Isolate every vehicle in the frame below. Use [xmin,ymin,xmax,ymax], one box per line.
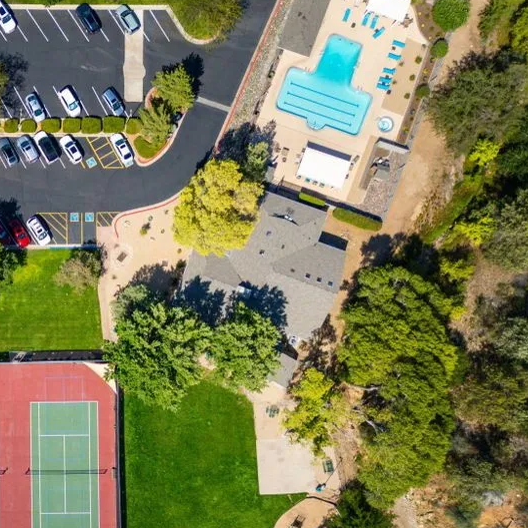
[111,135,133,165]
[28,214,49,244]
[77,2,99,34]
[102,86,123,115]
[36,131,59,165]
[118,4,139,34]
[25,91,46,122]
[0,138,18,167]
[9,217,30,247]
[61,134,82,165]
[18,135,38,164]
[59,86,80,117]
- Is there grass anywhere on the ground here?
Yes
